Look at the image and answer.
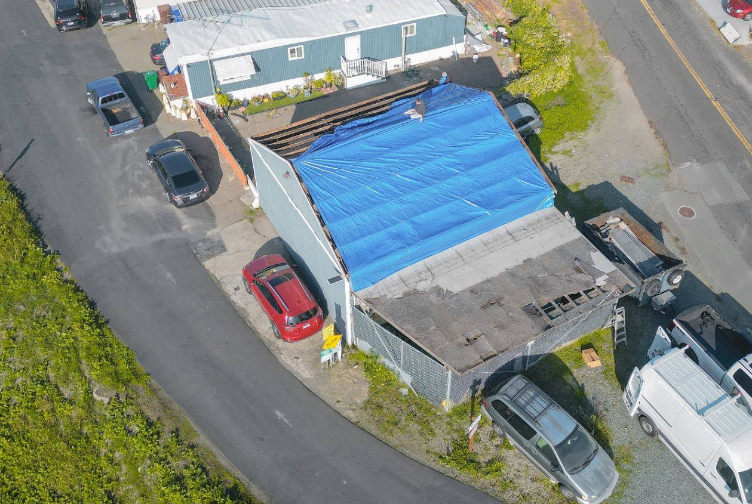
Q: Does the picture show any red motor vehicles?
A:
Yes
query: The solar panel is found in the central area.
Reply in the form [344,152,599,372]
[328,265,345,287]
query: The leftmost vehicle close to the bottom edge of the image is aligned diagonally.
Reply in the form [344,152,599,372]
[480,371,626,504]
